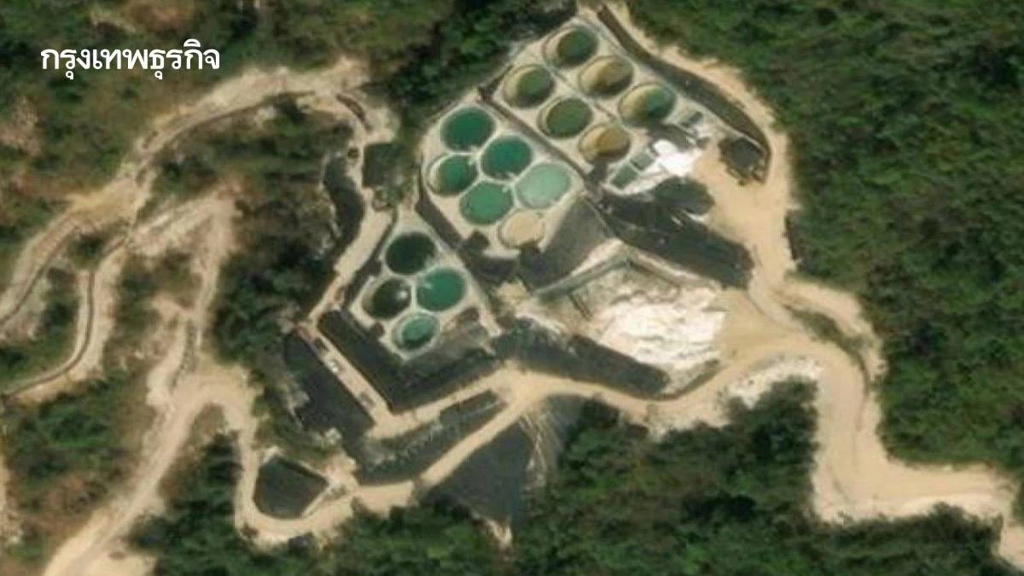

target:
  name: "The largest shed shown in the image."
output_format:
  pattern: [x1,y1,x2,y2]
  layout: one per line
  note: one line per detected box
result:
[653,115,691,153]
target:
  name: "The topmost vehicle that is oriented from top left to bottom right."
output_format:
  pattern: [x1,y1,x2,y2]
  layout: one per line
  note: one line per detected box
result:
[313,336,326,352]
